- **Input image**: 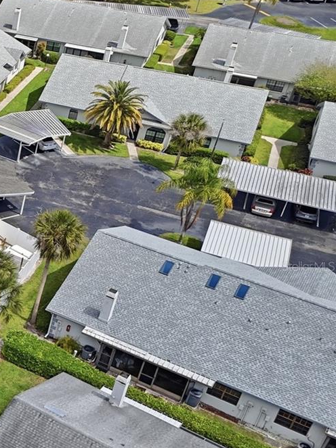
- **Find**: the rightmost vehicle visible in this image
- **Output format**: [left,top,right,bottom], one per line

[292,205,318,222]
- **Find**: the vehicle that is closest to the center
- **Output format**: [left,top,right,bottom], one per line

[253,195,279,217]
